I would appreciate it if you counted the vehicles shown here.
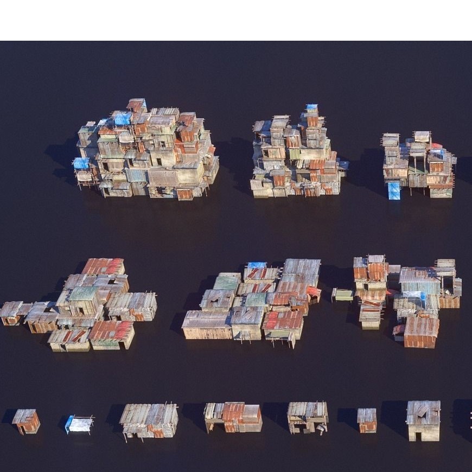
0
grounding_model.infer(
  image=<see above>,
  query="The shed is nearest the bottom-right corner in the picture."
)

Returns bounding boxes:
[406,399,444,441]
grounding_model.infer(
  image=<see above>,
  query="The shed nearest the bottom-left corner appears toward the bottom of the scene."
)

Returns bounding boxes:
[10,408,41,437]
